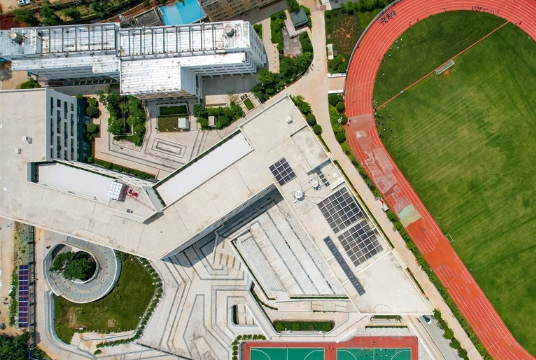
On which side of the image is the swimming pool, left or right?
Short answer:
left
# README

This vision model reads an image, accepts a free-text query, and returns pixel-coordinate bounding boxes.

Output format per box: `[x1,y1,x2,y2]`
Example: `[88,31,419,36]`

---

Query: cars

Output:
[17,0,29,5]
[422,314,432,326]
